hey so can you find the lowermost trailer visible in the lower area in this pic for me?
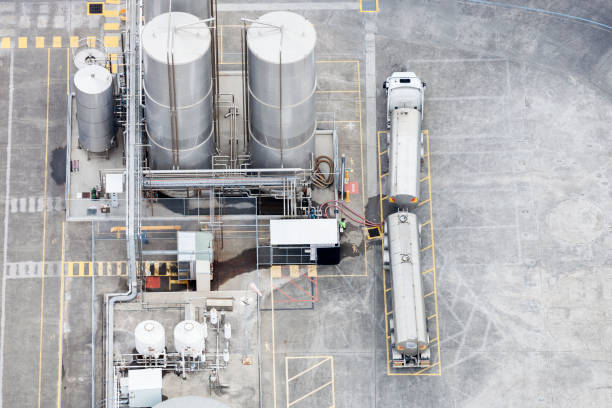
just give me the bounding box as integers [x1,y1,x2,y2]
[386,210,430,372]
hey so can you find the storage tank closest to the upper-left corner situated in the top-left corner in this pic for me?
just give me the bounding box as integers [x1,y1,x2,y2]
[72,38,127,73]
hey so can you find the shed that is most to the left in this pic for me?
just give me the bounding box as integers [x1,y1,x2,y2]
[128,369,162,407]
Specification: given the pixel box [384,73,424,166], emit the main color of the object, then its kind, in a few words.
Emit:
white truck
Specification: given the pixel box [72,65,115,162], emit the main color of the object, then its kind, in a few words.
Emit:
gray storage tank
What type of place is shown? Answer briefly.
industrial area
